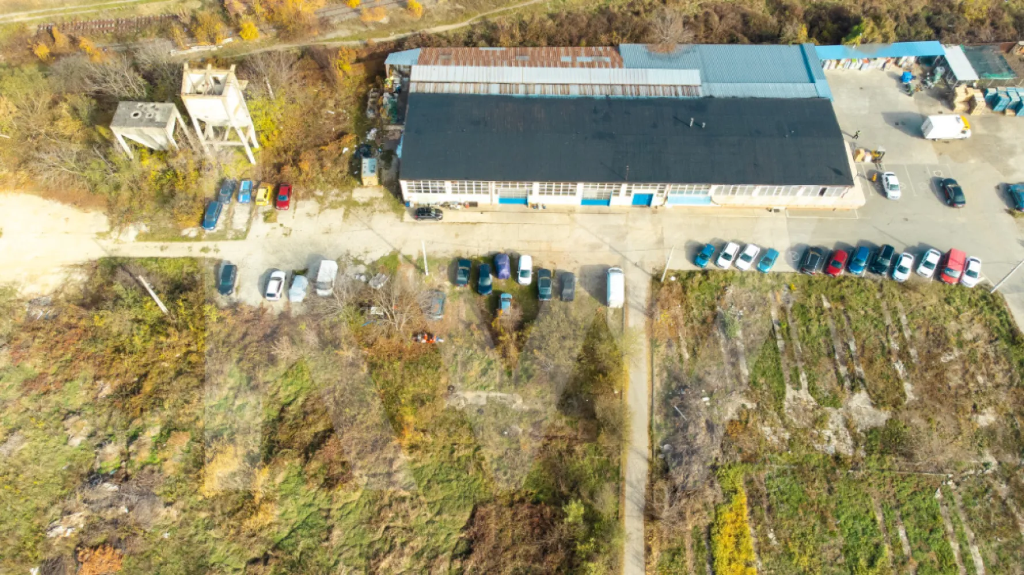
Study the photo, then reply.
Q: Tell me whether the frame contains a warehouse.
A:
Yes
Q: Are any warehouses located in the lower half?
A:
No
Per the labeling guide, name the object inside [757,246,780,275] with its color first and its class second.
blue car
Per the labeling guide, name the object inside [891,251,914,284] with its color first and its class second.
white car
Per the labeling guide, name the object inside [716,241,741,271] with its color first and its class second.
white car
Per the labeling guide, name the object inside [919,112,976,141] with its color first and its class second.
white truck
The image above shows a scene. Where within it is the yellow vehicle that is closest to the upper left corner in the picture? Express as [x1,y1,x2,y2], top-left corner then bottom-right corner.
[254,181,274,207]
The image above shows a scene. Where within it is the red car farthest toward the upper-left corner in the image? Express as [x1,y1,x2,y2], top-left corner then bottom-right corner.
[274,182,294,211]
